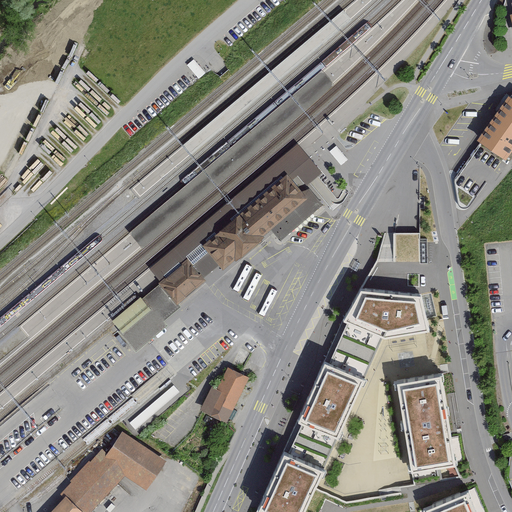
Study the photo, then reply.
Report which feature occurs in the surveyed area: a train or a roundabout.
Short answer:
train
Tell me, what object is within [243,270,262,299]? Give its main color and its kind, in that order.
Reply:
white vehicle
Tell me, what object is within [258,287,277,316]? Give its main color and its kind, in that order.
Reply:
white vehicle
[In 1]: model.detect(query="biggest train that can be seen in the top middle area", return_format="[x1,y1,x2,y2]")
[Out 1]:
[179,22,368,184]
